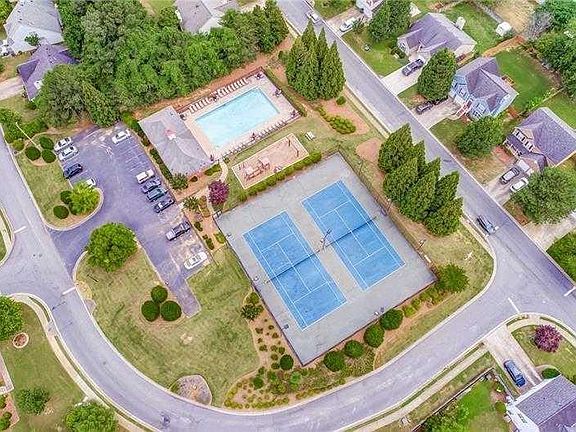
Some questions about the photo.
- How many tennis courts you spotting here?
two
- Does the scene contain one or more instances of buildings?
Yes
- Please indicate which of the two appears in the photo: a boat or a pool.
pool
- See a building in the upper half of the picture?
Yes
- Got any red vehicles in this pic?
No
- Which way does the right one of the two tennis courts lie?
at an angle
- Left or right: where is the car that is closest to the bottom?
right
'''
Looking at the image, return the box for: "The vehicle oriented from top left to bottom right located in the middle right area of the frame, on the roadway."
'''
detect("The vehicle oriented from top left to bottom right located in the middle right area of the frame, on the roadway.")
[476,215,497,236]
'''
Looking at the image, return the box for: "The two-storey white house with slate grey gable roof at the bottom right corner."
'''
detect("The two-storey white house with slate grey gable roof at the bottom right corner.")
[505,370,576,432]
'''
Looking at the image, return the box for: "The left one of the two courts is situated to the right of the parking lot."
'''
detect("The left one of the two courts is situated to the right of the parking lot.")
[243,210,348,331]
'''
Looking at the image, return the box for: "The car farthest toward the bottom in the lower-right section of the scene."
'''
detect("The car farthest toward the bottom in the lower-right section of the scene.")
[502,361,526,388]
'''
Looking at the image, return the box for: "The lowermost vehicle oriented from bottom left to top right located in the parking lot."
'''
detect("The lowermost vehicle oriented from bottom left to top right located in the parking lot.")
[184,251,207,269]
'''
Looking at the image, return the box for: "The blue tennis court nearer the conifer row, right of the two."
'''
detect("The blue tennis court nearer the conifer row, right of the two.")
[301,179,406,291]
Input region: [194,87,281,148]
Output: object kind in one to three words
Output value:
swimming pool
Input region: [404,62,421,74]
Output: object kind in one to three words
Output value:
vehicle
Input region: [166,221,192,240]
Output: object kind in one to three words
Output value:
vehicle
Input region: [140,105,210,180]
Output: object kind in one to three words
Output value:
building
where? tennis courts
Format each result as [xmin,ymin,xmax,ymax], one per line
[301,179,406,291]
[243,210,348,331]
